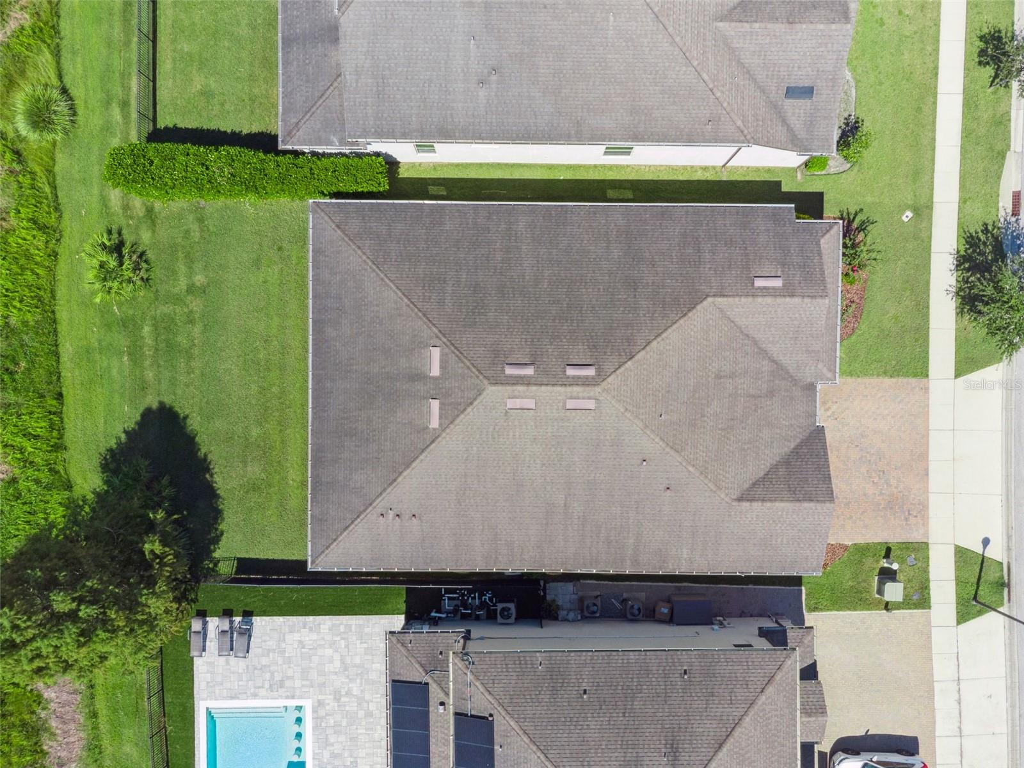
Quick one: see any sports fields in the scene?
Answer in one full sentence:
No, there is no sports field in the image.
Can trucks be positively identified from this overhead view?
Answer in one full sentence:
No, this view has no truck in it.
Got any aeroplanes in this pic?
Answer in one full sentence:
No, I can see no aeroplane in this picture.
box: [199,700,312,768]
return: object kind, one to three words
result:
swimming pool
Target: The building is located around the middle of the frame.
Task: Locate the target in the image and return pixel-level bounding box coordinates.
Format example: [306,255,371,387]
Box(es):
[308,201,842,572]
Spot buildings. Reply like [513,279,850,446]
[308,201,842,572]
[279,0,856,175]
[387,618,826,768]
